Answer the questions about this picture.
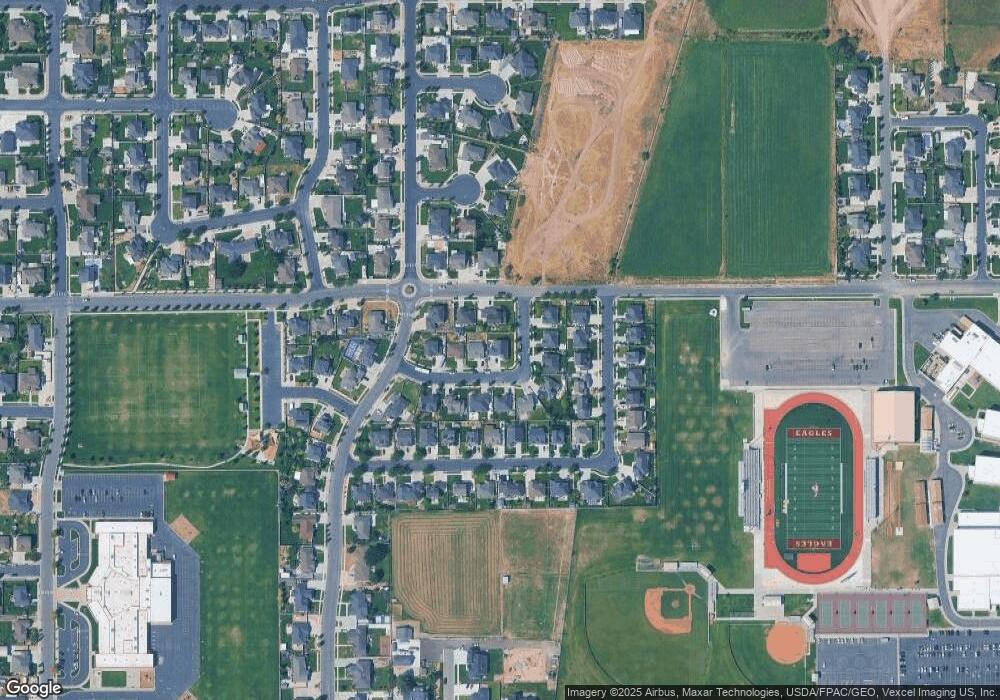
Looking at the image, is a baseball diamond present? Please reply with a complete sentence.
Yes, there's a baseball diamond here.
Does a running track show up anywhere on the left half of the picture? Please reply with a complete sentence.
No, I see no running track on the left half of the picture.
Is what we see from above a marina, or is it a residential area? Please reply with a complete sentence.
The area seen from above is a residential area.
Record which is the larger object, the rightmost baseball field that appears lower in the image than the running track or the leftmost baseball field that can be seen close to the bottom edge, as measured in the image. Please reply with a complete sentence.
The leftmost baseball field that can be seen close to the bottom edge takes up more space than the rightmost baseball field that appears lower in the image than the running track.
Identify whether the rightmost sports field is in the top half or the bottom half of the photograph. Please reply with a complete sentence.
The rightmost sports field sits in the bottom half of the picture.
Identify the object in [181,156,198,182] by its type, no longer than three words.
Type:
house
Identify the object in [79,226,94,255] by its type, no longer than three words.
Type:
house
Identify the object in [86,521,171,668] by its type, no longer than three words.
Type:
building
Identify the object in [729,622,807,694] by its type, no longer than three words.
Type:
baseball field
